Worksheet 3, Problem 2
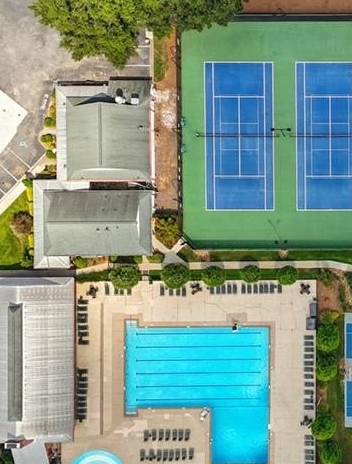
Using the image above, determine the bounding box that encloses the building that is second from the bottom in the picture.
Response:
[33,179,156,269]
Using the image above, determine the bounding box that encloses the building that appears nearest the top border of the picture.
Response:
[55,79,156,182]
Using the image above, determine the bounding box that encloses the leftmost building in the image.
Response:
[0,277,79,464]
